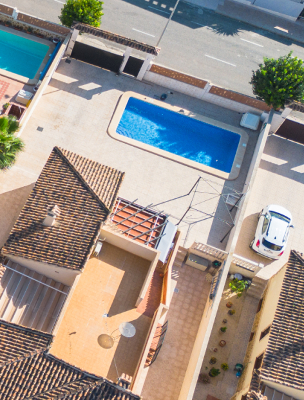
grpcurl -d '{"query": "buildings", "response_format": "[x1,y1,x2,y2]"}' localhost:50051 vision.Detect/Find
[241,248,304,400]
[0,144,185,400]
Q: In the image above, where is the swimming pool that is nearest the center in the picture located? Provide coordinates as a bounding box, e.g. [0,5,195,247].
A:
[105,90,249,180]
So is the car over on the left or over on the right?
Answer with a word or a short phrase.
right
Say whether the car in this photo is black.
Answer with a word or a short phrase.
No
